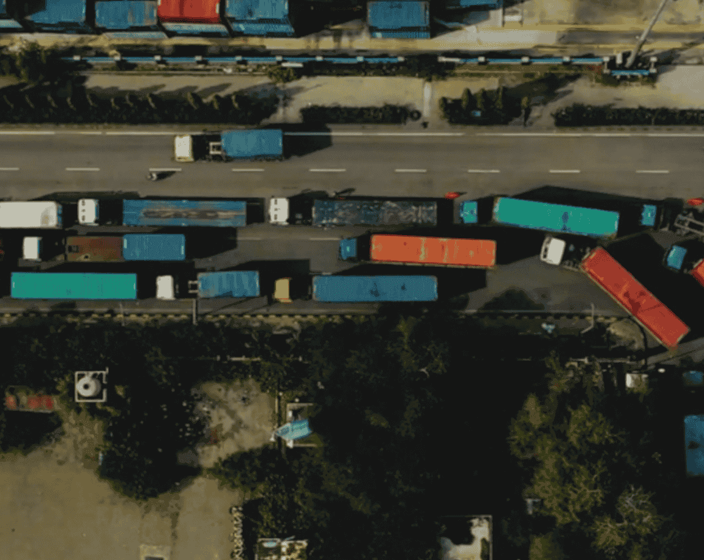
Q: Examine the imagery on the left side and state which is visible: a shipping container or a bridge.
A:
shipping container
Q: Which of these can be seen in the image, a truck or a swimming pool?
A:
truck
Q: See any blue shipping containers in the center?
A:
Yes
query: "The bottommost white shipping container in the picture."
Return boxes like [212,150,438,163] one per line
[0,203,65,230]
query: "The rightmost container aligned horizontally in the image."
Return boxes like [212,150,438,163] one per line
[491,197,619,238]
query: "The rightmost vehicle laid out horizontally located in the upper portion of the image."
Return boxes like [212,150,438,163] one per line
[631,200,704,242]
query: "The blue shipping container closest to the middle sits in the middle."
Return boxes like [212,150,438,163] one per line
[313,276,438,302]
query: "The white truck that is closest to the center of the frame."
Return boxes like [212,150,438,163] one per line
[267,197,437,227]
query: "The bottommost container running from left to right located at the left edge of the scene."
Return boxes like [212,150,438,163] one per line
[11,274,141,300]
